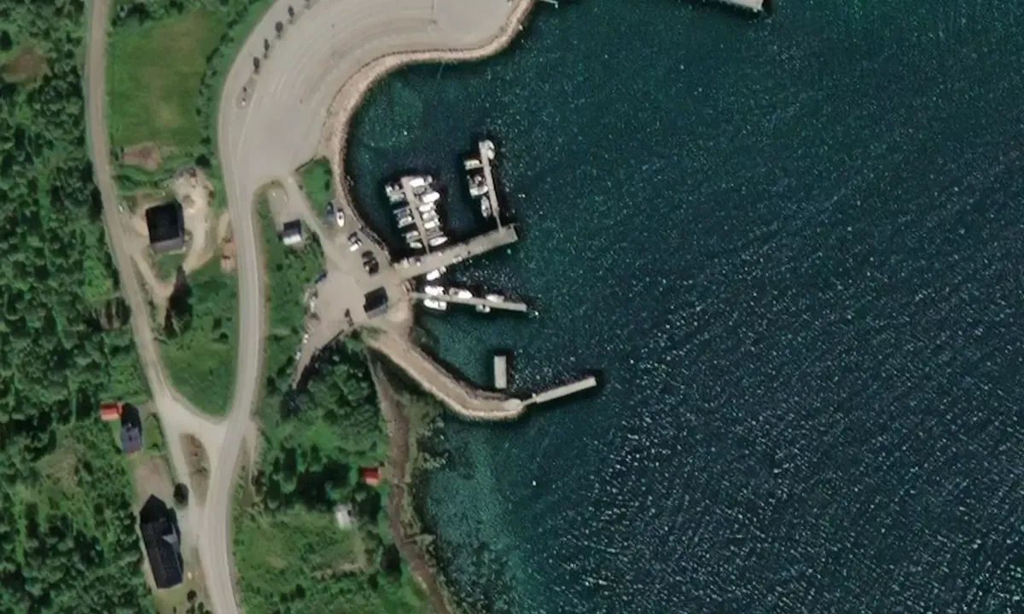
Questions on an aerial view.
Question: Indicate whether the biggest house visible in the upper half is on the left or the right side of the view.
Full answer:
You can find the biggest house visible in the upper half on the left side of the picture.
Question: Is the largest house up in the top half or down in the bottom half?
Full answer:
You can find the largest house in the bottom half.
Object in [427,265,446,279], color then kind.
white boat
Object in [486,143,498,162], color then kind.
white boat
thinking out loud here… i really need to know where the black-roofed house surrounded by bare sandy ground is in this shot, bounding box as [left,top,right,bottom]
[144,215,182,253]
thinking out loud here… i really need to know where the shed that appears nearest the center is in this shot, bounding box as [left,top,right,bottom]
[363,297,388,318]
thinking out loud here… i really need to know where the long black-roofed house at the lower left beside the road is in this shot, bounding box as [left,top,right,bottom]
[138,519,183,592]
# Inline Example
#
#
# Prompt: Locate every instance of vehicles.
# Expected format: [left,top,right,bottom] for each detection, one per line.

[360,250,375,260]
[363,256,378,268]
[347,233,362,244]
[326,202,333,217]
[349,241,362,251]
[367,262,381,273]
[314,271,327,284]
